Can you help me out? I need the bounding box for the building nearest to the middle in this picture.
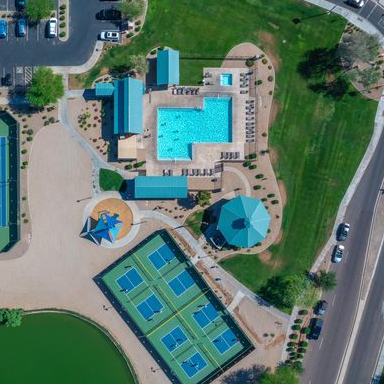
[135,176,189,198]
